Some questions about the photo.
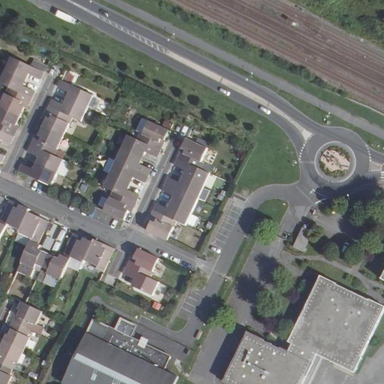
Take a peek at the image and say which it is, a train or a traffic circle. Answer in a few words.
traffic circle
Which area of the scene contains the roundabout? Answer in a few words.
right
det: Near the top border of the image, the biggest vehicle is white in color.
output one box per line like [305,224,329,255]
[56,10,78,24]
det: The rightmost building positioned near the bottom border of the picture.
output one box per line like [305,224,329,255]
[219,276,384,384]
